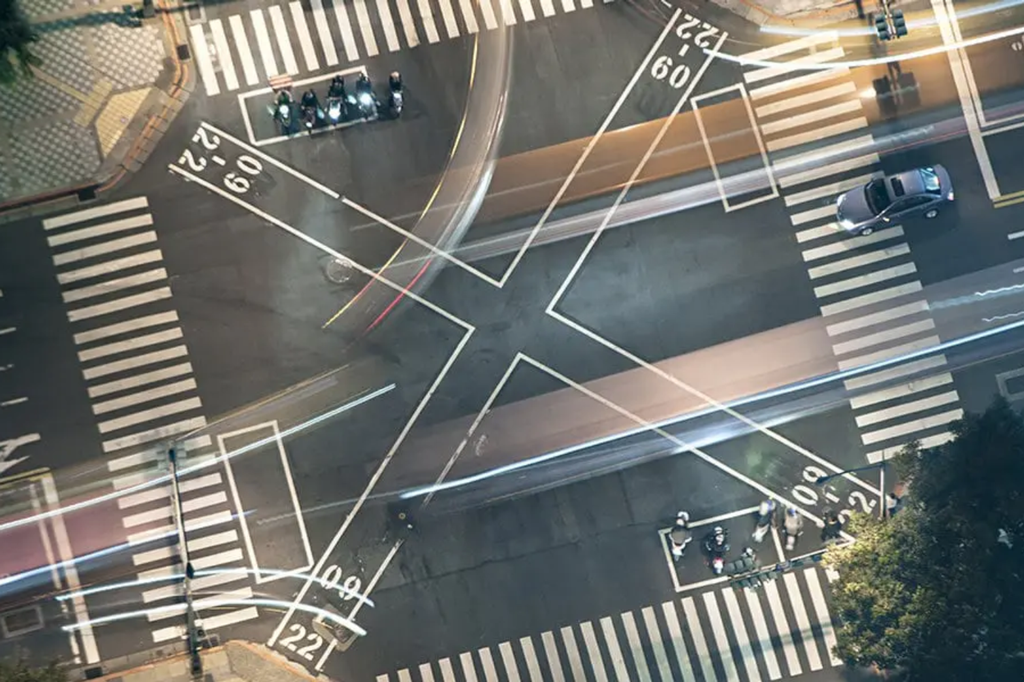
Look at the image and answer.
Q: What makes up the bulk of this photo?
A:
paved ground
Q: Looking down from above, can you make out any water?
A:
No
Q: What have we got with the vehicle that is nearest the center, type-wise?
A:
automobile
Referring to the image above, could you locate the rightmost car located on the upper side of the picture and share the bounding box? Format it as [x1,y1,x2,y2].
[833,163,955,235]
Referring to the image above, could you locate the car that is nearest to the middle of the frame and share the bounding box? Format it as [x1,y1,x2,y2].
[453,157,574,228]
